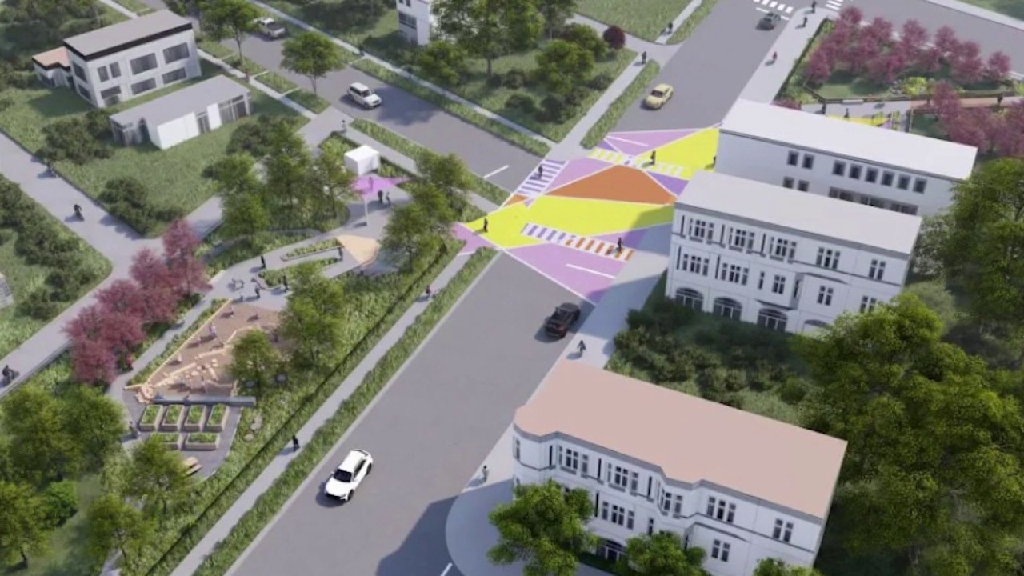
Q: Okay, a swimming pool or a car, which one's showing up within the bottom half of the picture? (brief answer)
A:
car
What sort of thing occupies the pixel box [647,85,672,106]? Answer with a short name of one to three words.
car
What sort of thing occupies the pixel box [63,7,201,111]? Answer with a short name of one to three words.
house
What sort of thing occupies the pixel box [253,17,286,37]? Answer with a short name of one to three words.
vehicle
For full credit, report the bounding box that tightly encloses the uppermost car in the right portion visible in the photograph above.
[760,11,780,27]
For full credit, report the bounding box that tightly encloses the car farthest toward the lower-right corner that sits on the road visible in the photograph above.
[543,299,581,336]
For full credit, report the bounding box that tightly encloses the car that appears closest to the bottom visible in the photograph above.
[323,446,375,500]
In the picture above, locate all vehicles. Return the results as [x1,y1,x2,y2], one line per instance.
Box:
[760,11,780,27]
[323,446,375,500]
[253,17,286,37]
[543,299,581,336]
[346,80,382,106]
[647,85,672,106]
